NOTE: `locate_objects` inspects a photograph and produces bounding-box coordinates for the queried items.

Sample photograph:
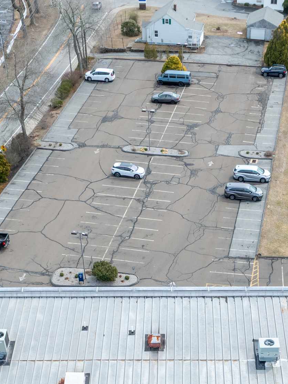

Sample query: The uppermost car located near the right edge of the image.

[261,61,288,76]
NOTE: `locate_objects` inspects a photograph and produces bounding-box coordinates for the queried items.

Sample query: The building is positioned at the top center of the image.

[133,0,207,47]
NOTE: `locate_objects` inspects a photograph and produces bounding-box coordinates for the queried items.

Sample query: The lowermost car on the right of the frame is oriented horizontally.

[224,180,265,200]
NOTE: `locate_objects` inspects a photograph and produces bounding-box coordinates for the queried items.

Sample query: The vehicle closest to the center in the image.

[111,159,148,177]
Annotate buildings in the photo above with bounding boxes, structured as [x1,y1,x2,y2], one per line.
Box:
[133,0,207,47]
[0,286,288,384]
[246,9,285,41]
[236,0,288,10]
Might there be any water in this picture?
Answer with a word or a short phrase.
No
